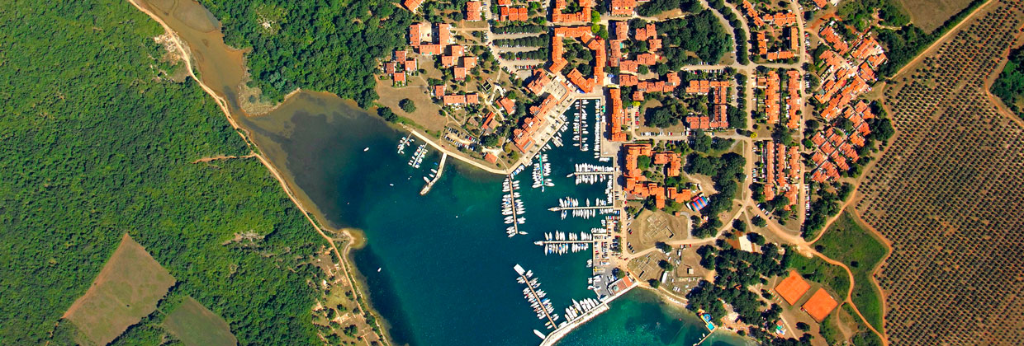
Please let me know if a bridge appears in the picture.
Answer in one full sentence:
No, no bridge can be seen from above.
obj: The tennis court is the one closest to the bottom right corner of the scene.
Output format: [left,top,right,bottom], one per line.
[801,287,838,324]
